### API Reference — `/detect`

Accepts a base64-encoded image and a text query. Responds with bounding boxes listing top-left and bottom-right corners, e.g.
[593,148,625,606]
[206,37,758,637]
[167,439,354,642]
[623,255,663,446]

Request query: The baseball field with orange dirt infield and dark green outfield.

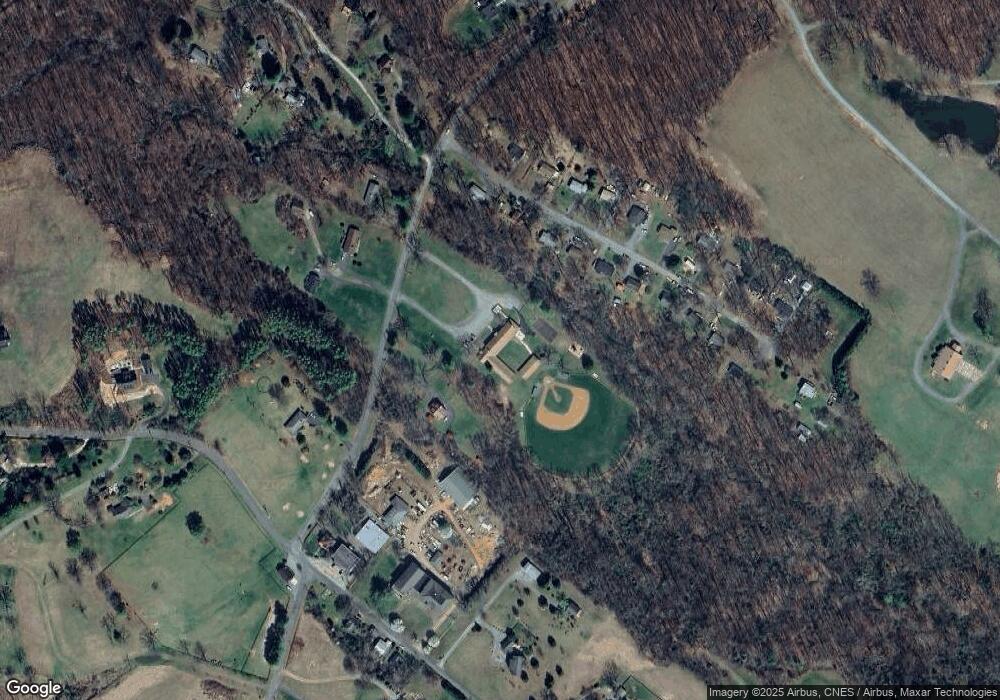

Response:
[523,373,637,475]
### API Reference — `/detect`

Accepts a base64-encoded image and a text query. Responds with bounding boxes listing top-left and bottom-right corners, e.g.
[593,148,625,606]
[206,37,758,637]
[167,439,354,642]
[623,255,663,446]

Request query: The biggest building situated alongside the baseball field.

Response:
[476,317,541,383]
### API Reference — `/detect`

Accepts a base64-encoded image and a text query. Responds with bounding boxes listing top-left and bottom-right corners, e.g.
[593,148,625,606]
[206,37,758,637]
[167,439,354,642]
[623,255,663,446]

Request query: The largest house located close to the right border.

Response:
[932,342,963,381]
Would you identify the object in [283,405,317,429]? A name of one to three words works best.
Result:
house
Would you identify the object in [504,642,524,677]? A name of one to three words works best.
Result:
house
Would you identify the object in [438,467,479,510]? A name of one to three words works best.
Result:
barn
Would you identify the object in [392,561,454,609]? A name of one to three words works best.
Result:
building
